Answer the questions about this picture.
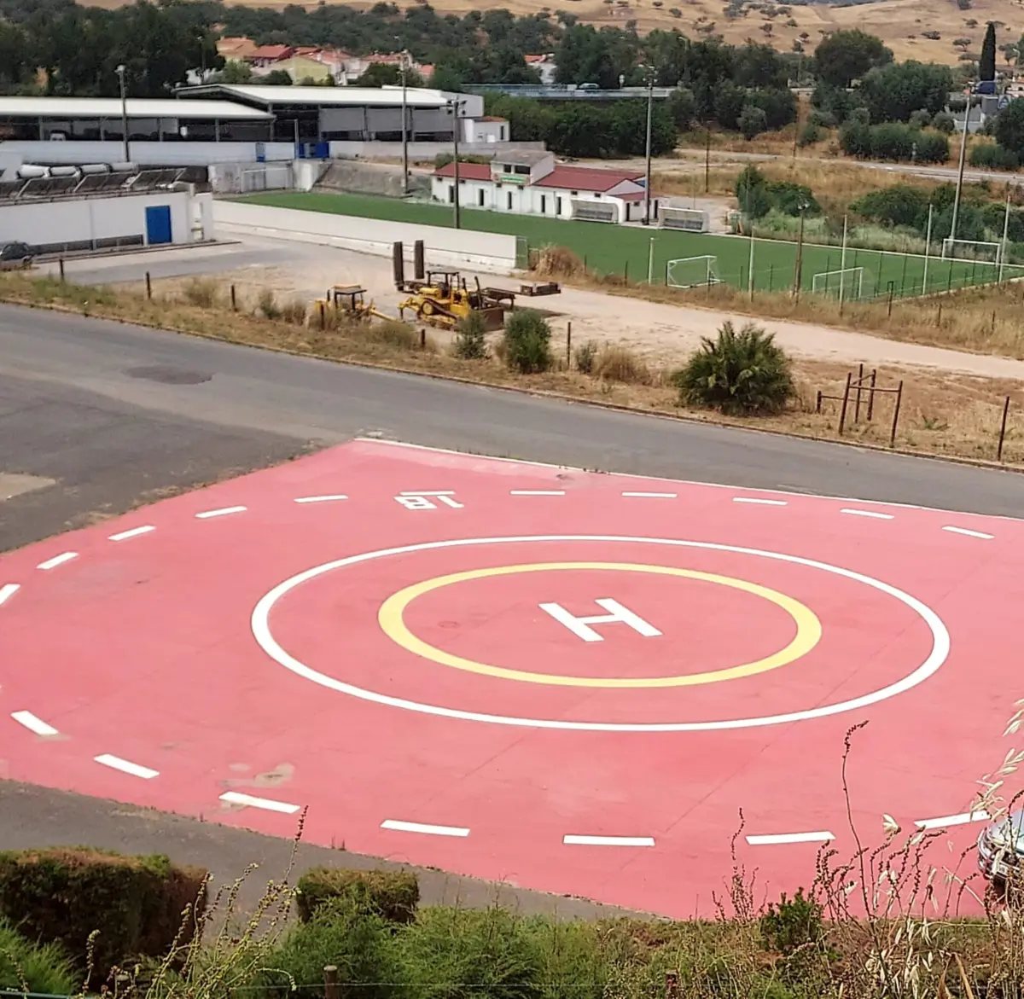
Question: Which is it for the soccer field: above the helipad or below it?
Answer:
above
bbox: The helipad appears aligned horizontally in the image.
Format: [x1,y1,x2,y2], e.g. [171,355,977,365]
[0,438,1024,951]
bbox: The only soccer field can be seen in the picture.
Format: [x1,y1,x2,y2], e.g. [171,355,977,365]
[205,189,1024,309]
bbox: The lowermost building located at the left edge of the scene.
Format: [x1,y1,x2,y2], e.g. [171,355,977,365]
[0,188,210,249]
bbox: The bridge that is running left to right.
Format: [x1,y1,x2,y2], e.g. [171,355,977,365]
[443,76,699,105]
